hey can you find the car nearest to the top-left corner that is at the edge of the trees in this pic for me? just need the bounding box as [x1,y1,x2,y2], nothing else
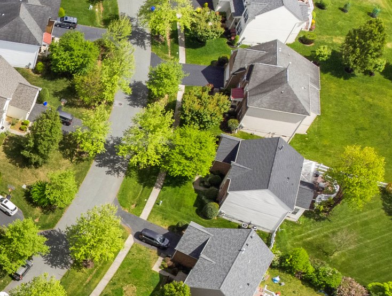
[57,15,80,30]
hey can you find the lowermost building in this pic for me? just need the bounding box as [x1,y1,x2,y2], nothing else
[172,217,275,296]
